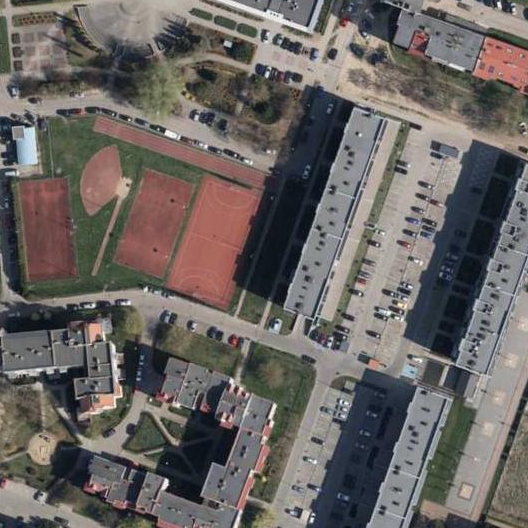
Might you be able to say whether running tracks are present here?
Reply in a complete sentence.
Yes, the photo shows a running track.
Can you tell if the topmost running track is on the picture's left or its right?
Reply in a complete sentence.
The topmost running track sits on the left side.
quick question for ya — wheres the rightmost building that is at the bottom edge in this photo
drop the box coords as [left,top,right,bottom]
[365,387,457,528]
